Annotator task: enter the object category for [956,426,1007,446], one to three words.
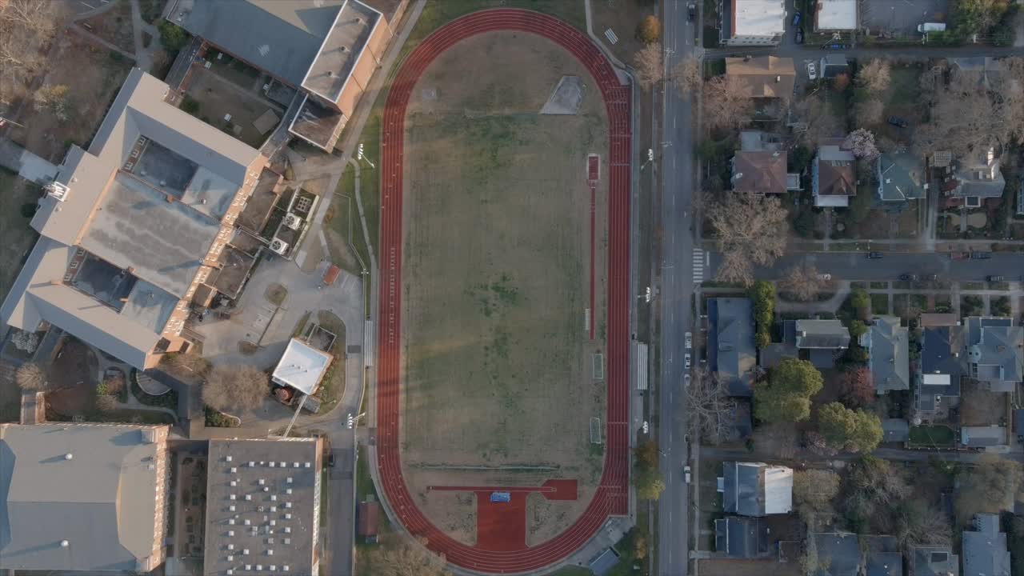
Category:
building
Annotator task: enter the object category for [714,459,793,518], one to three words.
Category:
house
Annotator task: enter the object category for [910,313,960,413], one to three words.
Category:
house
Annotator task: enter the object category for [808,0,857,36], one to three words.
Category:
building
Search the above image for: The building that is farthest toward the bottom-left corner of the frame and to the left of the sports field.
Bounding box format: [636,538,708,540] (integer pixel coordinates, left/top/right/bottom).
[0,421,183,573]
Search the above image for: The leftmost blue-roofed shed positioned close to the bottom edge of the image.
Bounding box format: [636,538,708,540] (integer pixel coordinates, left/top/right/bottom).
[588,545,620,576]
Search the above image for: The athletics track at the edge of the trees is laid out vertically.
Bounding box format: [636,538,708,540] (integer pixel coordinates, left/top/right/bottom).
[375,11,633,576]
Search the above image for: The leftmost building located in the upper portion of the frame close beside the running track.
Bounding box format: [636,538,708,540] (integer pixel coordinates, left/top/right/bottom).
[0,67,286,371]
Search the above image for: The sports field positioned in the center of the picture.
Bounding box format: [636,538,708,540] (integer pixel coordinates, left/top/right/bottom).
[401,36,607,550]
